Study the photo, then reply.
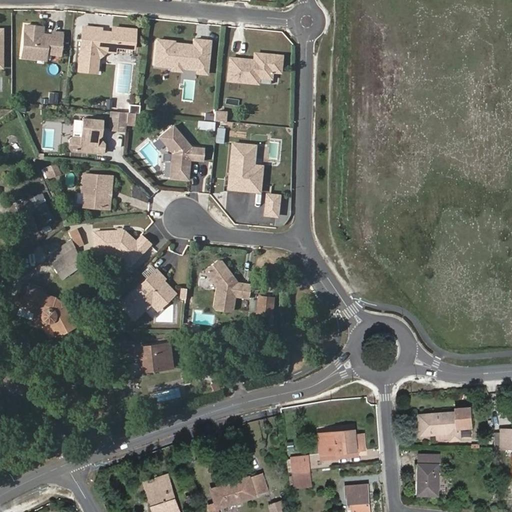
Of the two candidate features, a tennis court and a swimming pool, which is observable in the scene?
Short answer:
swimming pool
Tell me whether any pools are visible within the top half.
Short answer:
Yes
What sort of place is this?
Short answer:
residential area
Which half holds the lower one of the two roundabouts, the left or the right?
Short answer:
right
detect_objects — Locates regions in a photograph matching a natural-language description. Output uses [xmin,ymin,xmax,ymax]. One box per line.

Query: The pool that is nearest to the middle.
[193,310,214,326]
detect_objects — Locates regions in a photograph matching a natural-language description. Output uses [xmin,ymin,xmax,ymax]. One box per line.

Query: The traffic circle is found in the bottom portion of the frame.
[344,312,423,386]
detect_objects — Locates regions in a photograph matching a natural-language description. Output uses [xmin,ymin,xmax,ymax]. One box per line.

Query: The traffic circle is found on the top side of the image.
[288,2,326,40]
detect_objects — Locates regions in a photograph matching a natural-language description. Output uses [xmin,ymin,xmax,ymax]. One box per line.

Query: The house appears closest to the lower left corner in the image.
[143,474,180,512]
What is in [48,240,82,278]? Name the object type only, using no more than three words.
barn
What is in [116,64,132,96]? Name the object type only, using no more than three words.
swimming pool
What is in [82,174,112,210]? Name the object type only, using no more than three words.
house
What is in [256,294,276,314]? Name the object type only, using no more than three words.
shed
